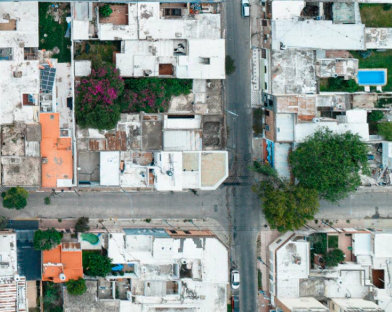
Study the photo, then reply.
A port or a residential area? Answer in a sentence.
This image shows a residential area.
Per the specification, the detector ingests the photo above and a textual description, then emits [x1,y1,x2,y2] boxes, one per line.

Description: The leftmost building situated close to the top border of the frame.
[0,1,39,86]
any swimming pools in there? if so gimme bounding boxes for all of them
[79,233,103,249]
[357,69,388,87]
